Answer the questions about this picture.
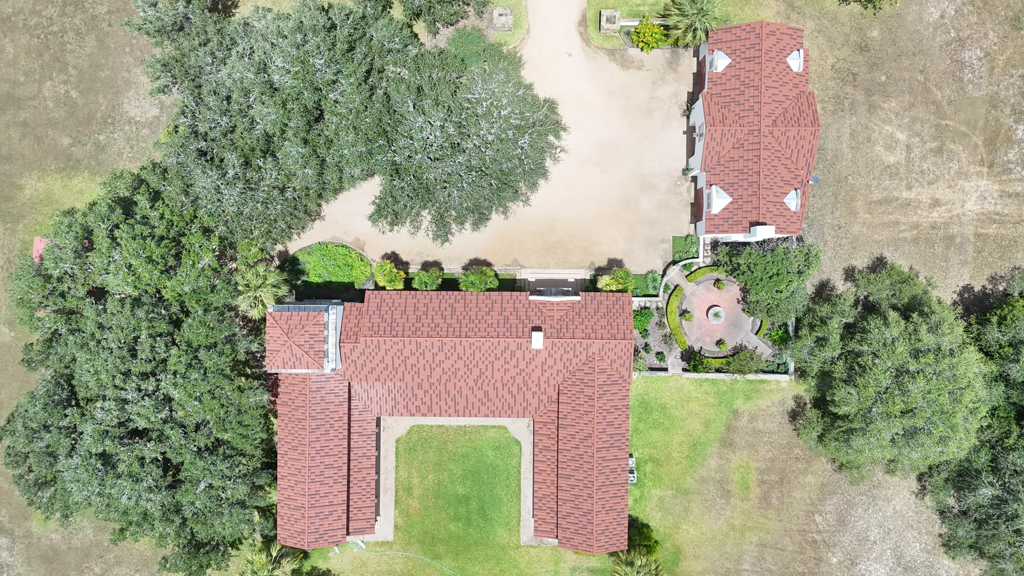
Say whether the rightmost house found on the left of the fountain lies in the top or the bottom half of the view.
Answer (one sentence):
The rightmost house found on the left of the fountain is in the bottom half of the image.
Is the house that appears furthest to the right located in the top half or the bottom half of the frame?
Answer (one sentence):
The top half of the photo is where the house that appears furthest to the right is.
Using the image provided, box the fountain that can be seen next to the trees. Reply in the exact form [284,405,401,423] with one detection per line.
[707,306,725,324]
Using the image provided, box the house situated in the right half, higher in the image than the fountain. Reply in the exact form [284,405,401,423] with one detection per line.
[690,19,821,241]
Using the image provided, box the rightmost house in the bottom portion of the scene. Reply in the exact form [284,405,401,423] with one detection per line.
[265,287,636,555]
